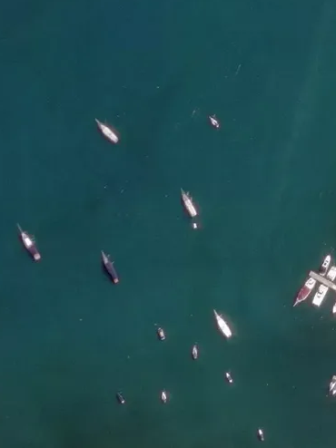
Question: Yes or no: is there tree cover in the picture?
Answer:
No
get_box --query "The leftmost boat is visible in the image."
[19,226,40,260]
